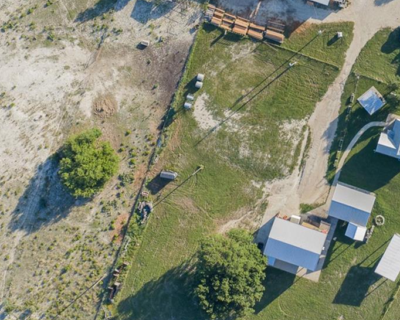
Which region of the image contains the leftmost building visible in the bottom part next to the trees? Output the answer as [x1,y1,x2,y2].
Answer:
[264,215,328,271]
